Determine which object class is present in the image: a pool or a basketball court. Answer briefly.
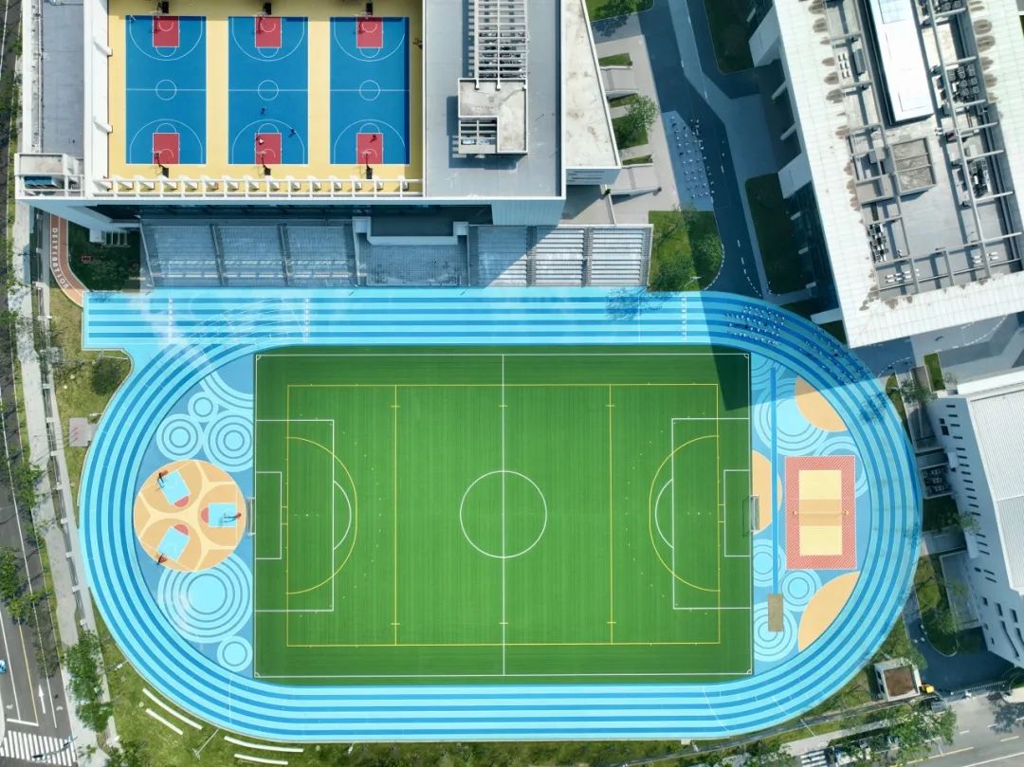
basketball court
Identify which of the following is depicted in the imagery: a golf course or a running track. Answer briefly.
running track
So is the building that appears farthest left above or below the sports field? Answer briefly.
above it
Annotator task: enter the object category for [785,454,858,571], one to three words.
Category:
sports court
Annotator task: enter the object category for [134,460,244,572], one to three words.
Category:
basketball court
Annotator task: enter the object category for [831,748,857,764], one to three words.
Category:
vehicle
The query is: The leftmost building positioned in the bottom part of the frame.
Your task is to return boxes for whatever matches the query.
[866,655,920,702]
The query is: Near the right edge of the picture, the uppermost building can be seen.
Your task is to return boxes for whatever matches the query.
[749,0,1024,347]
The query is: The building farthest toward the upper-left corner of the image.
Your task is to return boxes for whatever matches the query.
[13,0,565,245]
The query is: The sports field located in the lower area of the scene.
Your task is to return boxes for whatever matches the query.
[253,344,754,687]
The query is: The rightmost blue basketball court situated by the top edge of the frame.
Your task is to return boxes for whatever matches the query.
[329,16,410,165]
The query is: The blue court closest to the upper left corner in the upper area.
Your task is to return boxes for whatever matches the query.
[124,16,207,165]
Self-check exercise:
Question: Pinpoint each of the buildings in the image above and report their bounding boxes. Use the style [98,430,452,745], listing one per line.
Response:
[866,655,920,702]
[13,0,565,245]
[935,369,1024,671]
[749,0,1024,347]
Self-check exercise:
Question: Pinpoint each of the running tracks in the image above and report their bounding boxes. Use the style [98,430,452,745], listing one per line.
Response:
[76,287,927,744]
